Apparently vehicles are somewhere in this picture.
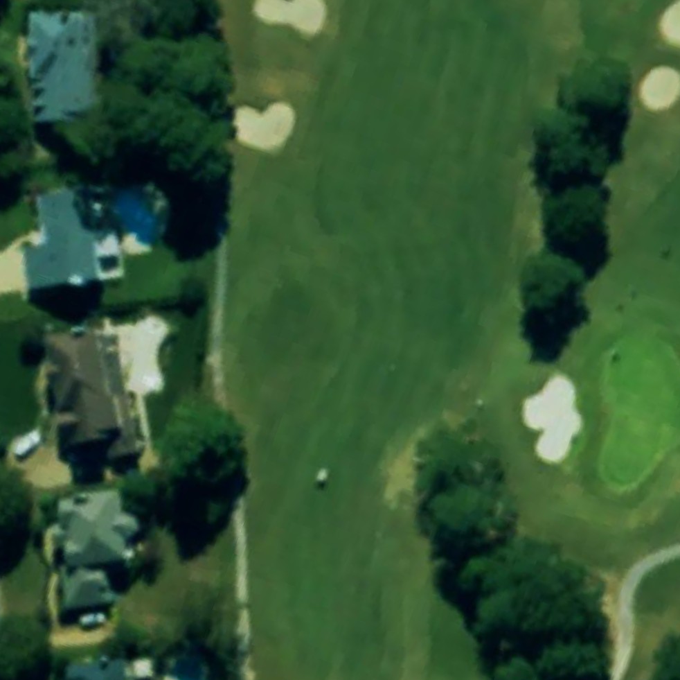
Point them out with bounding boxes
[316,469,326,483]
[79,614,105,627]
[13,430,40,457]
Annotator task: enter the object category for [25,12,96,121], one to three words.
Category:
house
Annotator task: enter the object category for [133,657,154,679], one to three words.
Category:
building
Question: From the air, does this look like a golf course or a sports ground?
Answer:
golf course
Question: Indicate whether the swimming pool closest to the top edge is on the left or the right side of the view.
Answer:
left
